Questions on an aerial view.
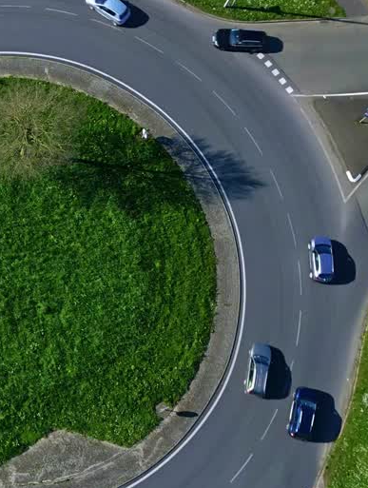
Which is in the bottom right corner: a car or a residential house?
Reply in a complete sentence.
You can see a car in the bottom right corner.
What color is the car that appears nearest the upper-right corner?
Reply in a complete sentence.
The car that appears nearest the upper-right corner looks black in the image.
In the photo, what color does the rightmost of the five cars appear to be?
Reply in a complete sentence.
From above, the rightmost of the five cars appears blue.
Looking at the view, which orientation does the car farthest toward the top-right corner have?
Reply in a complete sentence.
I'd say the car farthest toward the top-right corner is aligned horizontally in the picture.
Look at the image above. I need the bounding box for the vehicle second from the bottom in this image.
[244,342,275,396]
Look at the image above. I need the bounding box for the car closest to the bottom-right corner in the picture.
[286,386,319,440]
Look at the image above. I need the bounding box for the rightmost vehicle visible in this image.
[308,234,337,282]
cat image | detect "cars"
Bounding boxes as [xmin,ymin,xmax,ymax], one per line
[85,0,131,26]
[308,234,337,282]
[212,25,266,51]
[244,342,275,396]
[286,386,319,440]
